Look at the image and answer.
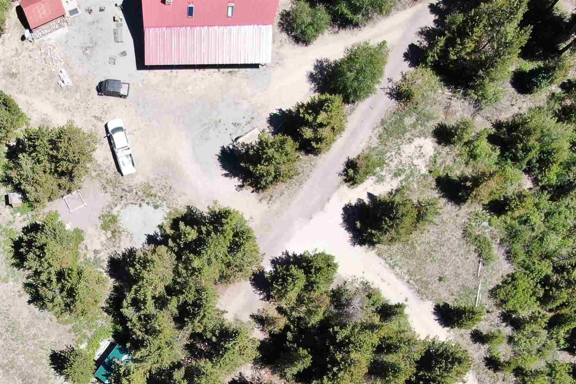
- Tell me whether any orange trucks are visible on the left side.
No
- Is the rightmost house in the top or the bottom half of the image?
top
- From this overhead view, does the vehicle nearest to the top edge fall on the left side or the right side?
left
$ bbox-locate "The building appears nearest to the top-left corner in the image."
[20,0,65,33]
